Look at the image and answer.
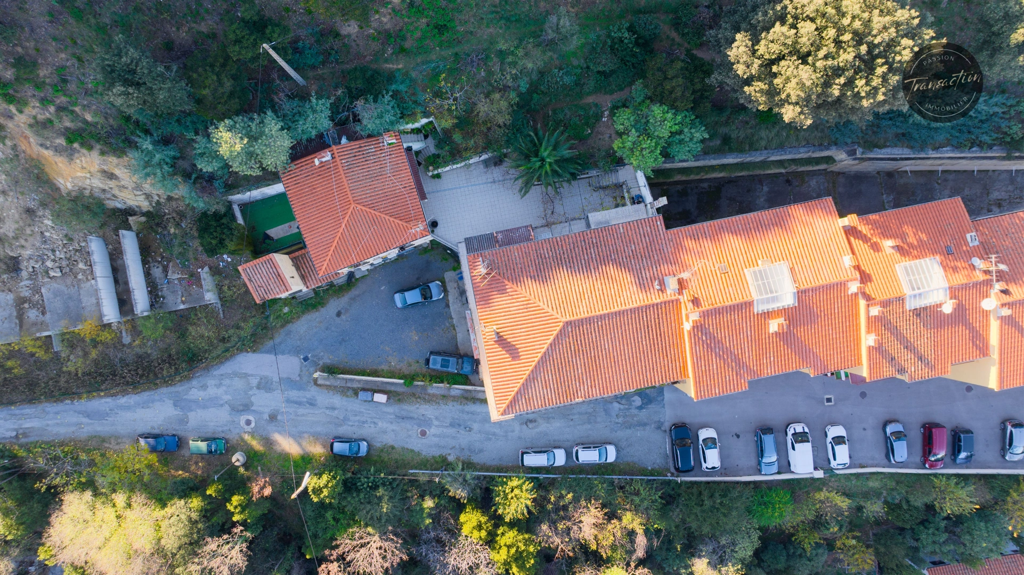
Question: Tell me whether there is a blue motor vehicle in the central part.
Yes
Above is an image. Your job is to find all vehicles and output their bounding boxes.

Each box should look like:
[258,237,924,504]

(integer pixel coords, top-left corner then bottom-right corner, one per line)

[786,422,816,477]
[572,442,616,466]
[423,353,476,377]
[697,427,722,471]
[882,420,910,464]
[754,426,780,474]
[330,437,370,459]
[187,436,229,458]
[670,422,695,474]
[921,422,951,469]
[823,423,850,469]
[999,418,1024,462]
[394,282,445,309]
[519,446,565,470]
[949,427,976,465]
